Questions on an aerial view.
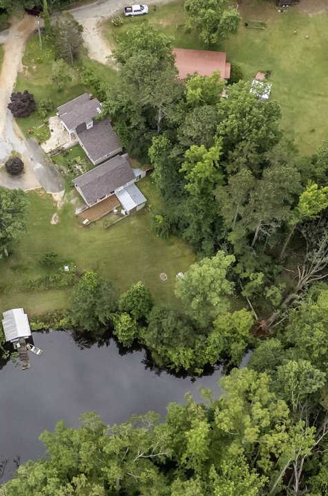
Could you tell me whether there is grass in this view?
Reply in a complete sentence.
Yes, grass can be seen from above here.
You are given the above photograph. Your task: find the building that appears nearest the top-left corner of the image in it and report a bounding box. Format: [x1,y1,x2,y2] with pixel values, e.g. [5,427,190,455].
[53,91,101,143]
